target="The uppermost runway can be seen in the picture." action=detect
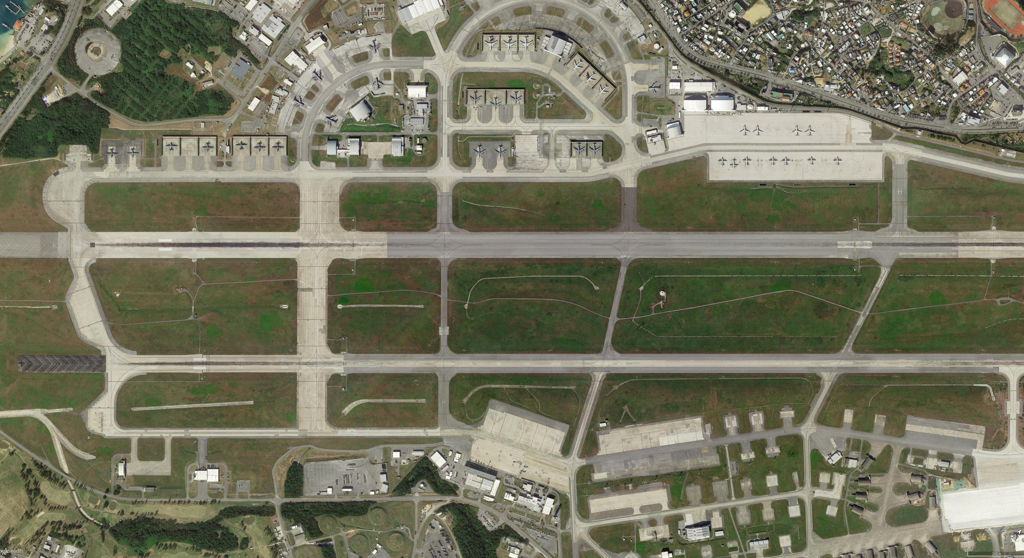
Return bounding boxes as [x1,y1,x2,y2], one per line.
[0,232,1024,258]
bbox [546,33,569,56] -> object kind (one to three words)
hangar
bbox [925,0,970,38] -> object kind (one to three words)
baseball field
